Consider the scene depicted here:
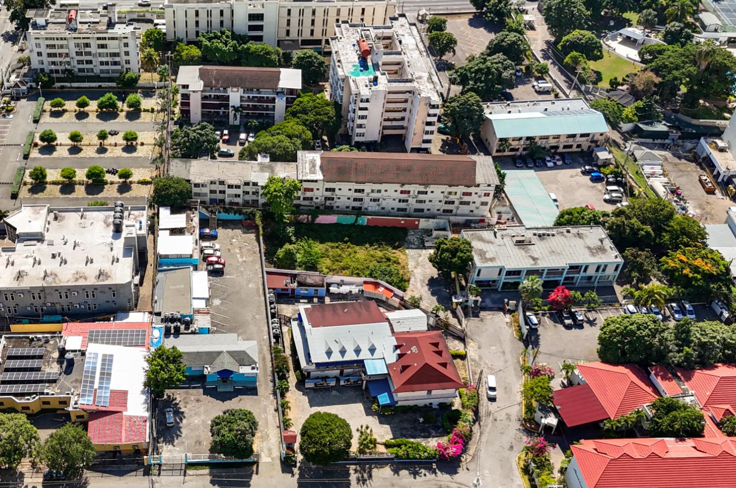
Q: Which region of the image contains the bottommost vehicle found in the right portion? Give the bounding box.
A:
[484,373,500,398]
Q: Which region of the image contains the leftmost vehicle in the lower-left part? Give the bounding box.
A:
[41,469,68,482]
